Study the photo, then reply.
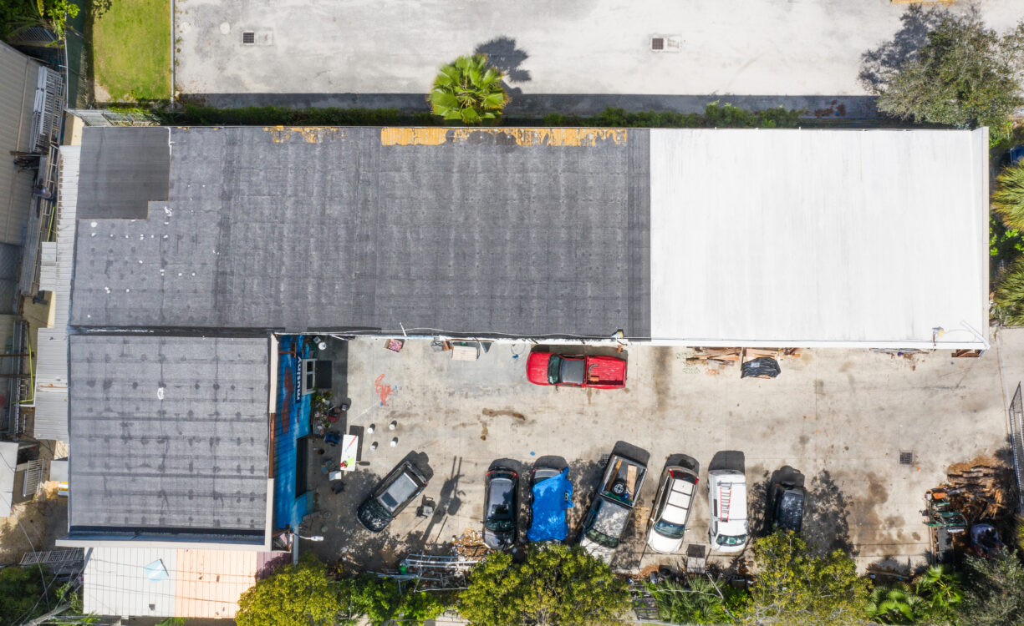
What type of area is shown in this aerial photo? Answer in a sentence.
This looks like an industrial area.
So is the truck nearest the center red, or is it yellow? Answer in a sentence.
The truck nearest the center is red.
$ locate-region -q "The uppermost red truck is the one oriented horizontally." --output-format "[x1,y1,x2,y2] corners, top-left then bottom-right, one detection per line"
[527,352,629,393]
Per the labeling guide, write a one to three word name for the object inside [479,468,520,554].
car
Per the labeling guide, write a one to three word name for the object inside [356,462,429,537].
car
